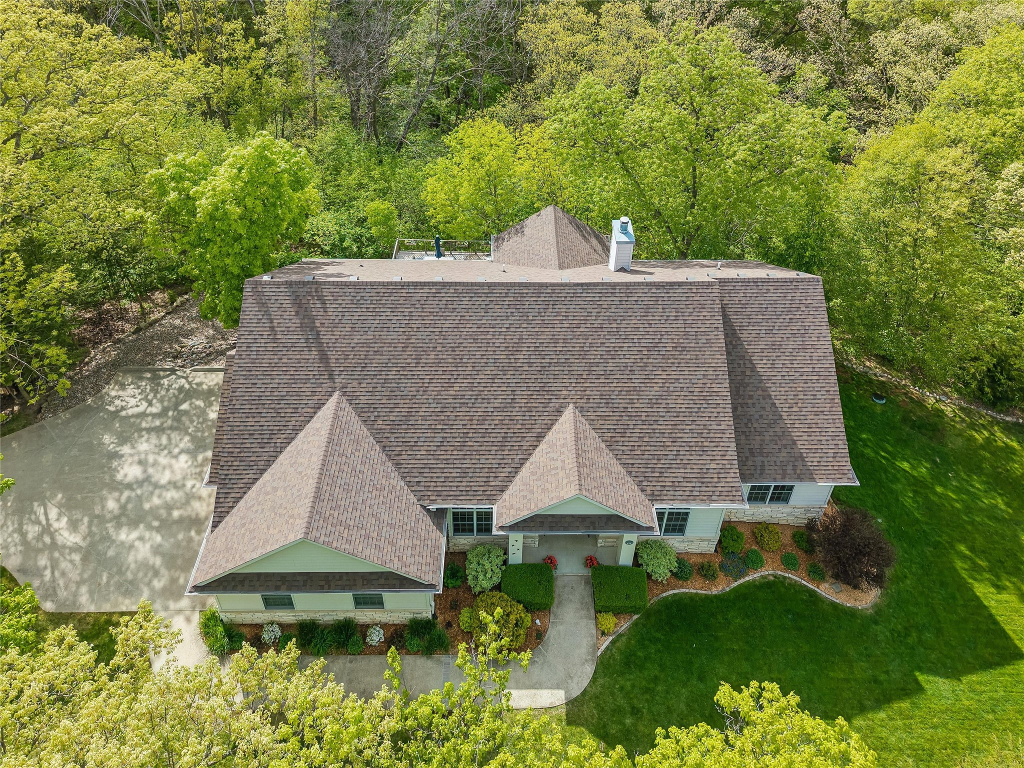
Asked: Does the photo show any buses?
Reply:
No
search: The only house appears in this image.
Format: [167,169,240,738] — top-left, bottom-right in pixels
[188,204,857,637]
